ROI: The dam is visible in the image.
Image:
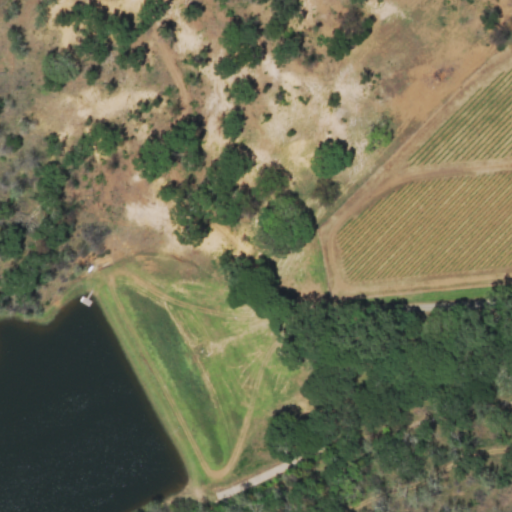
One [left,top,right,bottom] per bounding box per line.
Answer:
[98,280,214,474]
